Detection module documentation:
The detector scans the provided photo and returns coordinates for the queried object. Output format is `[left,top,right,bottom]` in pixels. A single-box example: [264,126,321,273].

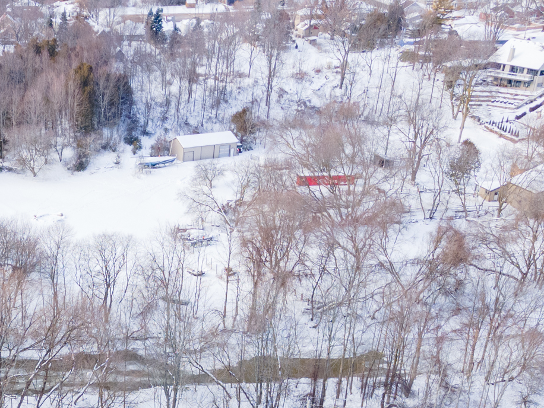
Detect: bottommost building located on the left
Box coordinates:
[166,126,240,160]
